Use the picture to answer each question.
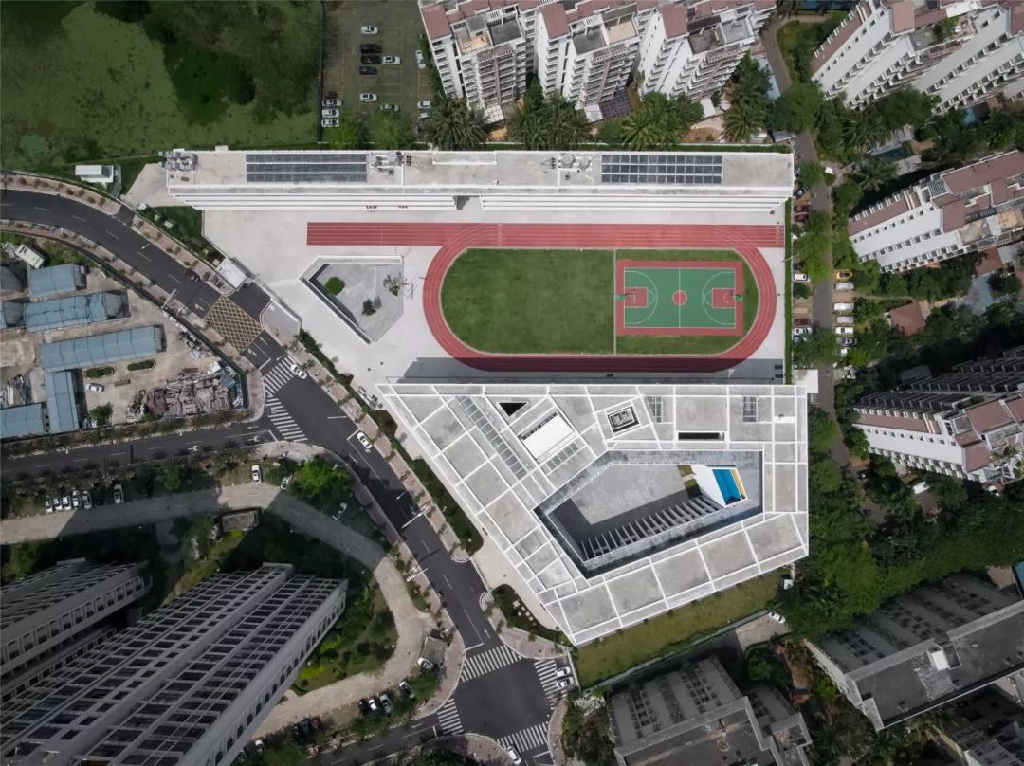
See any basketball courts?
Yes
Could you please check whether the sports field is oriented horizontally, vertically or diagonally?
horizontally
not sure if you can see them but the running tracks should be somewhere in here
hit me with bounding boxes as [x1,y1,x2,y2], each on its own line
[307,222,784,373]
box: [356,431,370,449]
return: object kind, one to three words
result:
car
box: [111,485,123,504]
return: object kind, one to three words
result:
vehicle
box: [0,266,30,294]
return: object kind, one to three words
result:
shed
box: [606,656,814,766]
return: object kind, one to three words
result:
building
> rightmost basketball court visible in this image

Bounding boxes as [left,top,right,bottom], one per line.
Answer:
[616,261,742,335]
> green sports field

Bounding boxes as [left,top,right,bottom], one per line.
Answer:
[442,248,759,354]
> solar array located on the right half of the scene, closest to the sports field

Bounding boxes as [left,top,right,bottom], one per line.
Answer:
[601,154,722,182]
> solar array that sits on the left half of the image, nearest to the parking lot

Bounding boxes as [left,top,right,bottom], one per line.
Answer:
[246,154,368,182]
